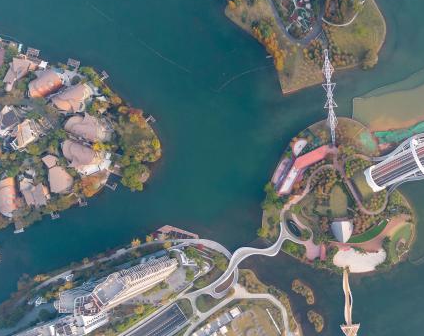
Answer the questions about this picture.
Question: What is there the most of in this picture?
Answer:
water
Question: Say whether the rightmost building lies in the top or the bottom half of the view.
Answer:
bottom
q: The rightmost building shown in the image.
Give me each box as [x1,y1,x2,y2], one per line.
[331,220,352,243]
